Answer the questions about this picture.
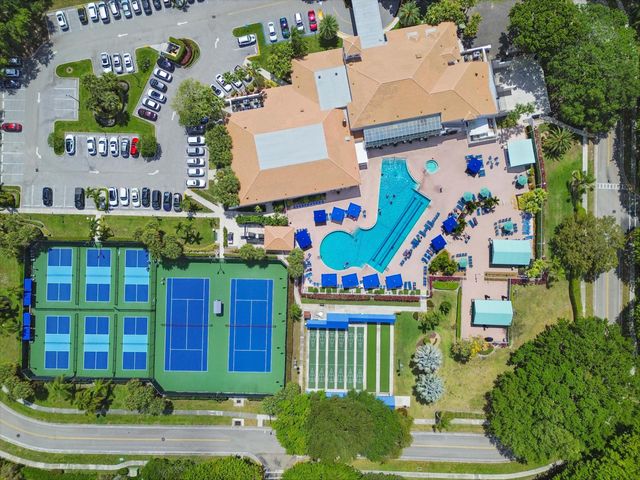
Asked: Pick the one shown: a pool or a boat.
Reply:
pool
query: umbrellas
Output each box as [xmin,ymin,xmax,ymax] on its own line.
[342,273,359,289]
[313,210,326,223]
[346,204,362,219]
[330,208,346,223]
[517,175,527,186]
[295,229,312,249]
[503,221,512,231]
[321,274,337,288]
[466,158,481,172]
[429,234,447,251]
[362,273,380,289]
[385,274,402,289]
[462,191,472,201]
[479,187,489,196]
[458,258,467,267]
[442,216,457,232]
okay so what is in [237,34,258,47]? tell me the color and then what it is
white vehicle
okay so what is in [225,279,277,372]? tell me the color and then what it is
blue tennis court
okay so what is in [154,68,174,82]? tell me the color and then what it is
white car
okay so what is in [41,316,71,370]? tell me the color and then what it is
blue sports court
